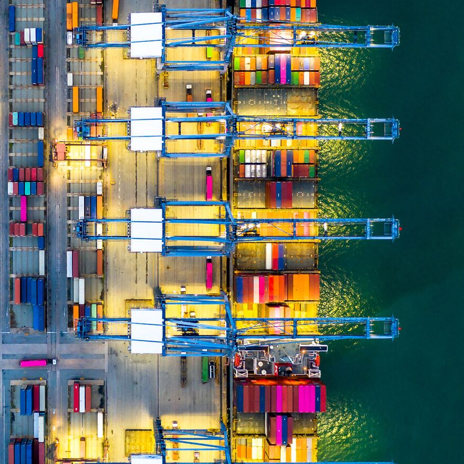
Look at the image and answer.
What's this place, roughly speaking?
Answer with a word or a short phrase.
port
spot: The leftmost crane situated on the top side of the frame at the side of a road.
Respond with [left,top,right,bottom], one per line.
[51,138,110,170]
